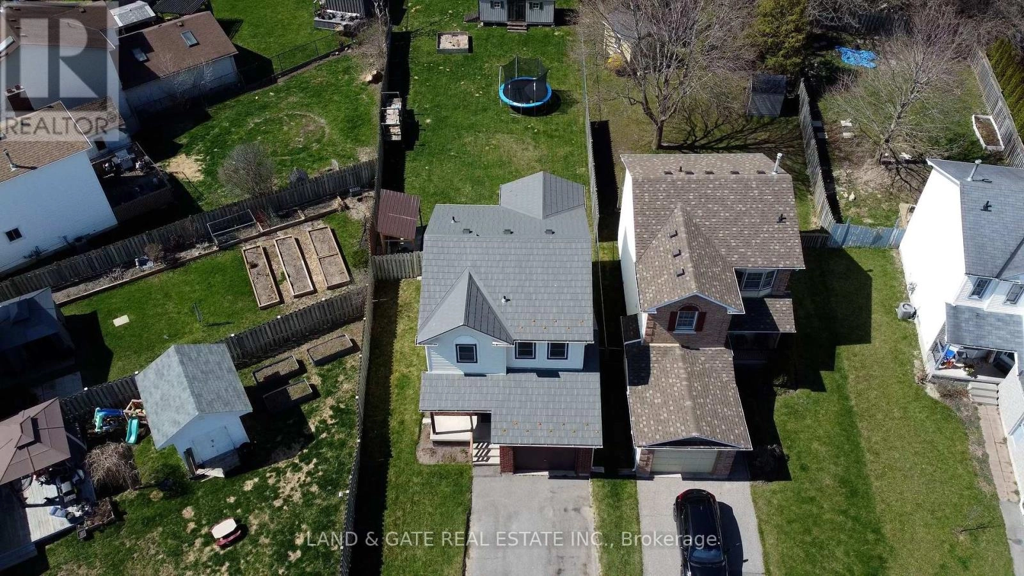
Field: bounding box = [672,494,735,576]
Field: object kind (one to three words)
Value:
car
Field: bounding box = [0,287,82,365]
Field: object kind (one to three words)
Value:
gazebo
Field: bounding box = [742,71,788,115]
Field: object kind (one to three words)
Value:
shed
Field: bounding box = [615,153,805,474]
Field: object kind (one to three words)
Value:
house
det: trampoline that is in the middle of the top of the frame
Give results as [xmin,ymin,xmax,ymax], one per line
[499,52,552,117]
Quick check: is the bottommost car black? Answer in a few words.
Yes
